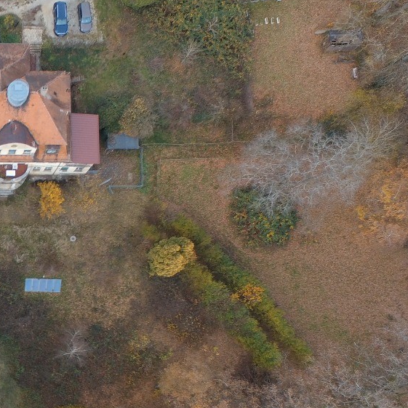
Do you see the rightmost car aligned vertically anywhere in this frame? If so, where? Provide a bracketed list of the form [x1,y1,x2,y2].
[77,5,92,33]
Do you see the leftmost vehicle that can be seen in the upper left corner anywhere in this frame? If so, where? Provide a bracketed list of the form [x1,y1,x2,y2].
[52,5,68,35]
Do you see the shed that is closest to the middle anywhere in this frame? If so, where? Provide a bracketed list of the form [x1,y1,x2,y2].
[106,133,139,155]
